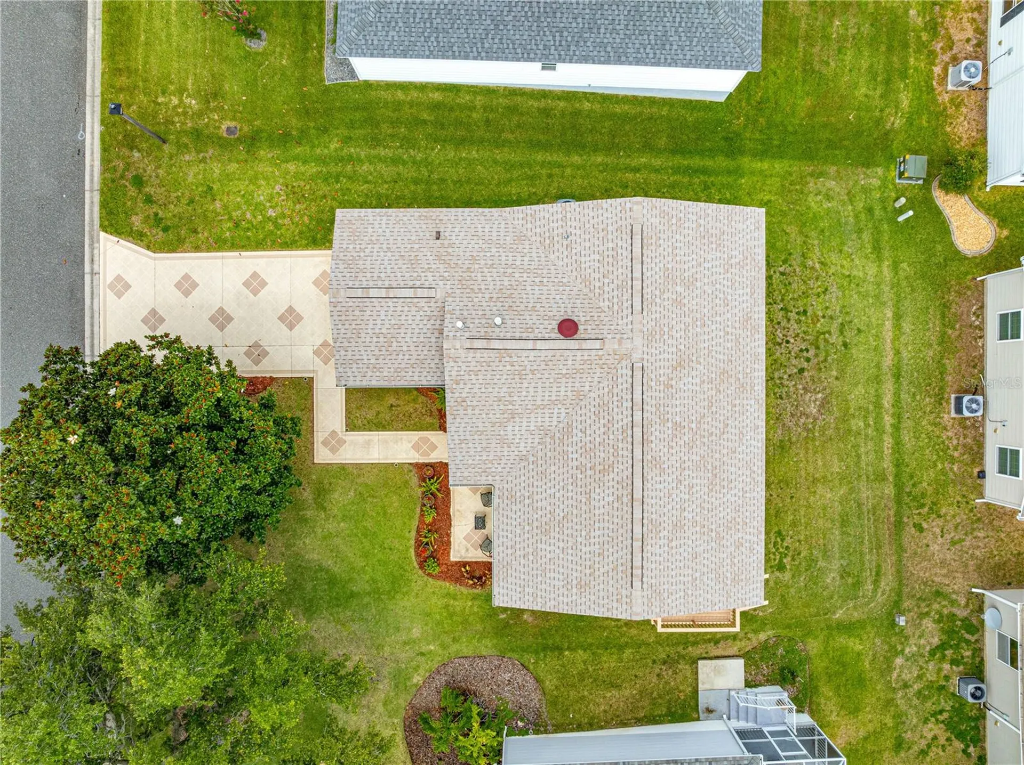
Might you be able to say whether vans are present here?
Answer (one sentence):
No, there appears to be no van in this shot.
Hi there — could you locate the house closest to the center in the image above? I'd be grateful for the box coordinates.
[328,196,767,621]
